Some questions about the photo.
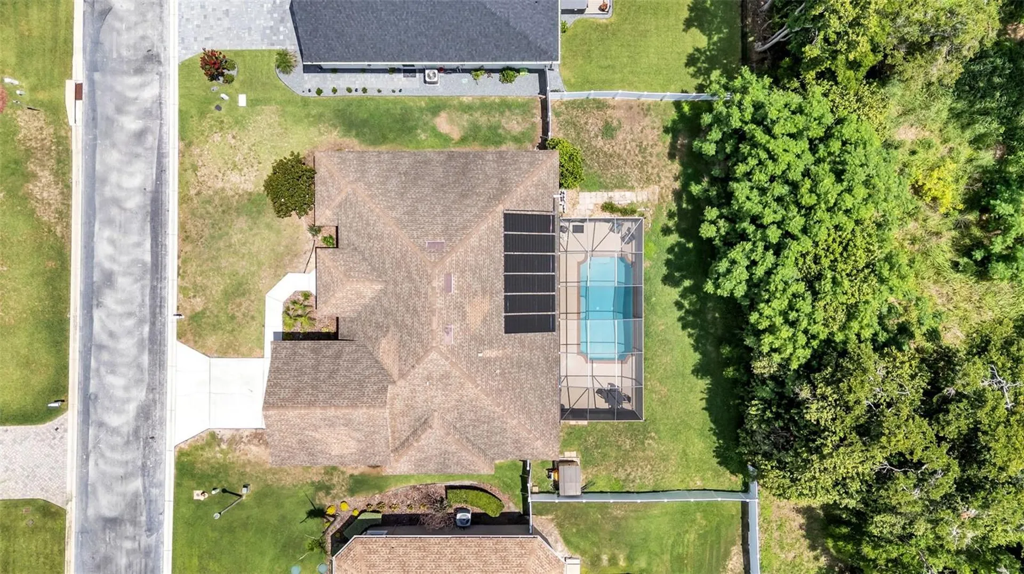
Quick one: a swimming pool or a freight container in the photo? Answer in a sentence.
I can see a swimming pool in this picture.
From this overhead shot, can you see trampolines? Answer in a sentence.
No, no trampoline is visible in the scene.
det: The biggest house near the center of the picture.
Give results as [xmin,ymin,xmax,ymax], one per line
[262,149,563,475]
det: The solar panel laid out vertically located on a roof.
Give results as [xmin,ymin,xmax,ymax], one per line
[503,198,555,334]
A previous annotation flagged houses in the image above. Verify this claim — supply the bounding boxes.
[331,528,580,574]
[291,0,560,69]
[262,149,563,475]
